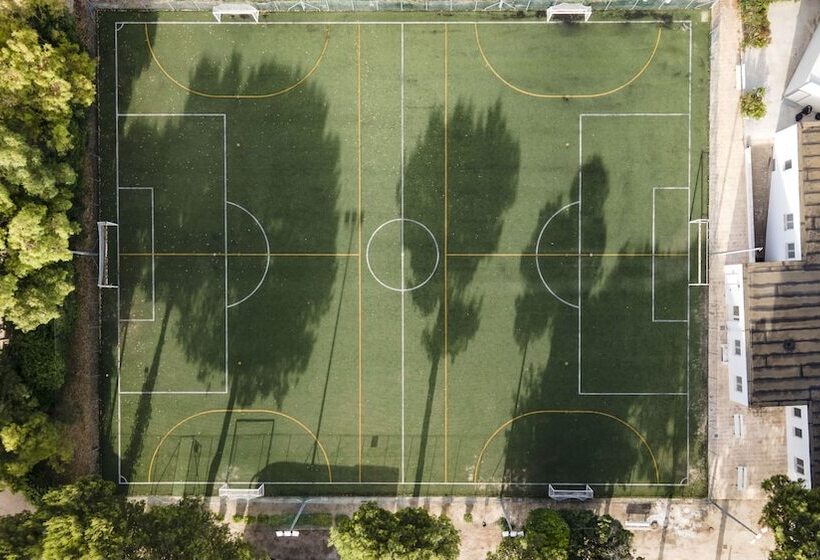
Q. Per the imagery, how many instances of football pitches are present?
3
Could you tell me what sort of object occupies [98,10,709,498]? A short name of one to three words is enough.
soccer field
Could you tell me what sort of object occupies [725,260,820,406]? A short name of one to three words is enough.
building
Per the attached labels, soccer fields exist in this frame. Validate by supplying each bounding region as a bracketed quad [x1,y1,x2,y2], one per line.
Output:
[445,22,689,484]
[119,22,360,484]
[98,10,709,498]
